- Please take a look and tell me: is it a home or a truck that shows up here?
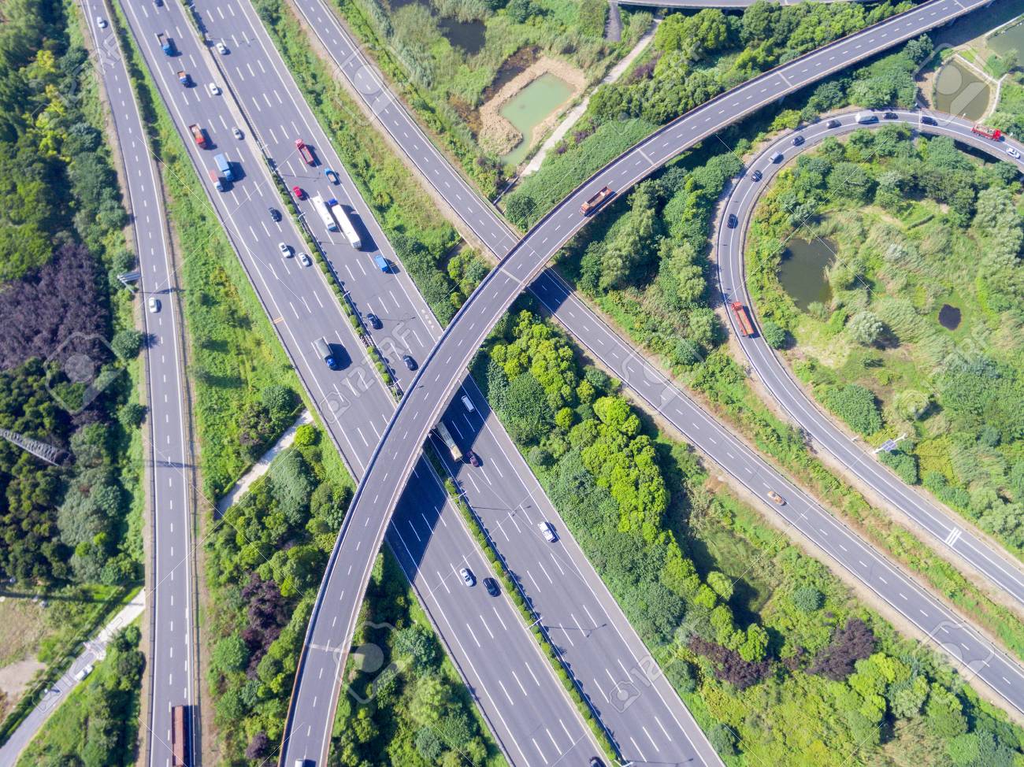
truck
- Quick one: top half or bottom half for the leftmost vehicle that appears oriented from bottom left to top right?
bottom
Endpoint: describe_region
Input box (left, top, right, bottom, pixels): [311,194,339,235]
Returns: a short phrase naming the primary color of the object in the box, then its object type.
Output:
white bus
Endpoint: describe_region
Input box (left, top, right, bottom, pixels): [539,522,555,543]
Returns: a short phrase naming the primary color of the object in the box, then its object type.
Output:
white car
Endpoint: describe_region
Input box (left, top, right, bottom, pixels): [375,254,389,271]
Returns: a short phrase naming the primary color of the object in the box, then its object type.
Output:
blue vehicle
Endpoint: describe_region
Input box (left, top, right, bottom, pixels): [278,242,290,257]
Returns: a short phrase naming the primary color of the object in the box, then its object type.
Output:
white vehicle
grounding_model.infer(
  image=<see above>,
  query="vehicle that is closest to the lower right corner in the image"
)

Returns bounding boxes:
[765,489,785,507]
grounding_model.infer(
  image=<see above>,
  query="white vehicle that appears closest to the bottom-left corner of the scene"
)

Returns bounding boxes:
[70,659,96,684]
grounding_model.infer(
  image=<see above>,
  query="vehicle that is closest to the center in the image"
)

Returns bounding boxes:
[460,395,476,414]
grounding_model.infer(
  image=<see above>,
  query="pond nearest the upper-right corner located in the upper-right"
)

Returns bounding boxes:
[932,58,991,122]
